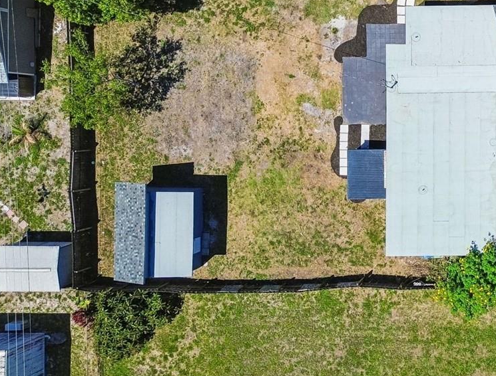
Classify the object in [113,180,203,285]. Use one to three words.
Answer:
shed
